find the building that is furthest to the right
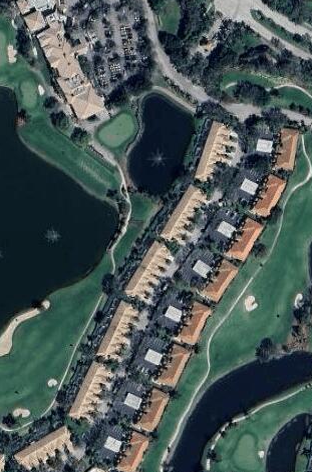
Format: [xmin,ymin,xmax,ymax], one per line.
[276,128,297,169]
